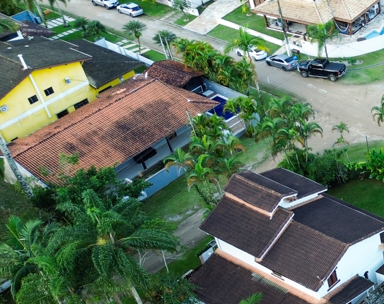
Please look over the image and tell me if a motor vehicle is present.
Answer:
Yes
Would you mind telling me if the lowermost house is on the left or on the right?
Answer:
right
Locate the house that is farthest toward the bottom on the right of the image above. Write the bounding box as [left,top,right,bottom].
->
[189,166,384,304]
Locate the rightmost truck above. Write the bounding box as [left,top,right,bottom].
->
[295,58,348,81]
